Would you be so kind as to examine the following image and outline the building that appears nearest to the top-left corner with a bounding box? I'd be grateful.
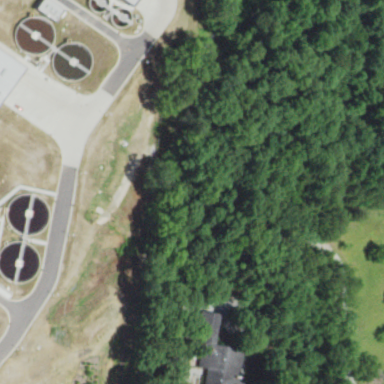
[38,0,64,21]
